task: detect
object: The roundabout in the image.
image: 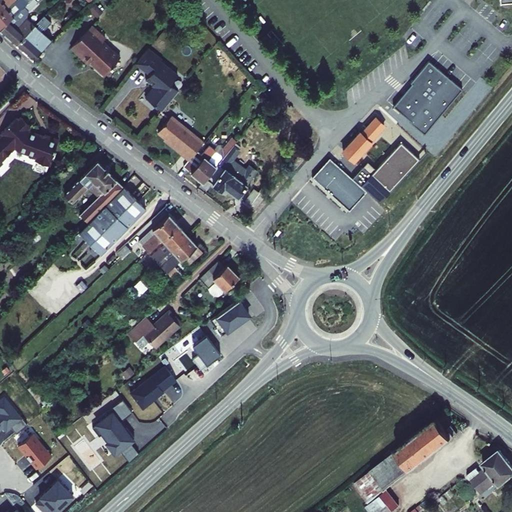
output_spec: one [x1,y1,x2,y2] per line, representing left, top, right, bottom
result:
[290,266,380,356]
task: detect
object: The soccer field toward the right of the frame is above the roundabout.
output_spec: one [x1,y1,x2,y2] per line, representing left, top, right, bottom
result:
[256,0,407,74]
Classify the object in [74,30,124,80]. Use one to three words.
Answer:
house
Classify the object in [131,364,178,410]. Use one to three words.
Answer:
house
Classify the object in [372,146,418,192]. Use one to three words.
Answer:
building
